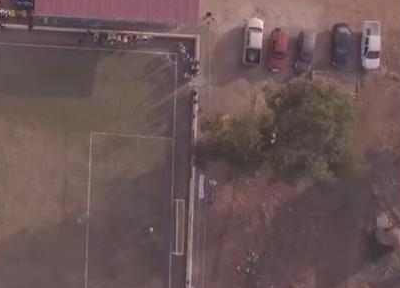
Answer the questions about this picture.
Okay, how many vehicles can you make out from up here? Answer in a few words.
5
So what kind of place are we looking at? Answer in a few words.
sports ground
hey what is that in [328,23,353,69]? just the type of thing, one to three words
car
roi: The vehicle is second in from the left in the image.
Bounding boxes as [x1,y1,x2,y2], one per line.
[265,30,288,73]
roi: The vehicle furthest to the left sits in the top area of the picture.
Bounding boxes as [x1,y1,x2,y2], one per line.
[240,19,264,69]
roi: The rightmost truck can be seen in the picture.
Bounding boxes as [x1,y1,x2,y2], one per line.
[357,20,383,72]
